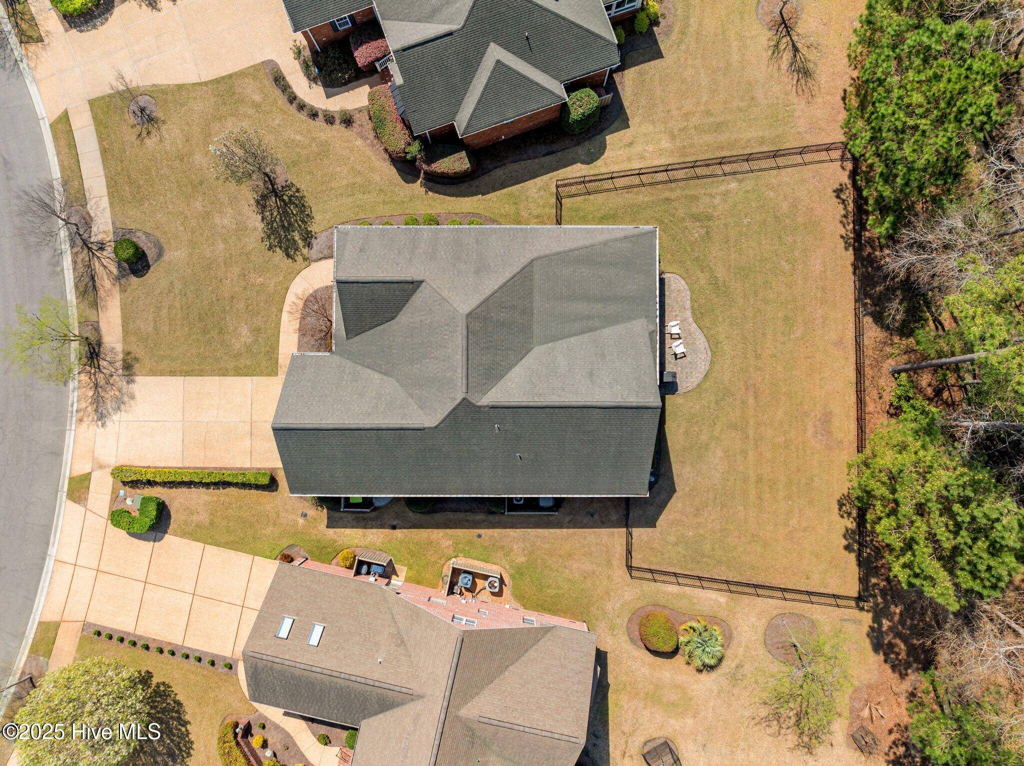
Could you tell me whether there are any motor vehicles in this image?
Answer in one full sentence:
No, no motor vehicle is visible in the scene.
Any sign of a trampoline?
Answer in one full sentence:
No, there isn't any trampoline down there.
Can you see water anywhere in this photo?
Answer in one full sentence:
No, water can't be seen anywhere here.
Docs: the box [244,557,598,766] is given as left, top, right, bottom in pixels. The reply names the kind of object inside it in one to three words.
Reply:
house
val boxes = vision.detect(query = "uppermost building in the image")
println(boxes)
[282,0,623,148]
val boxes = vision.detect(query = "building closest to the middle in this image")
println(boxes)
[272,226,661,498]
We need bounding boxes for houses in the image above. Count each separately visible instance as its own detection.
[282,0,623,148]
[272,226,661,498]
[244,557,598,766]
